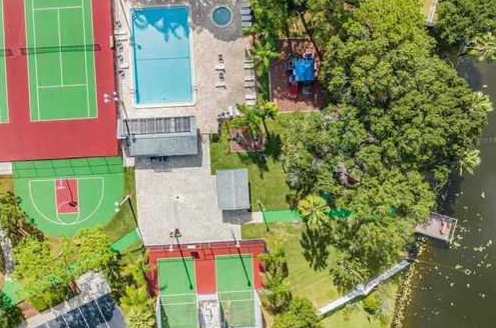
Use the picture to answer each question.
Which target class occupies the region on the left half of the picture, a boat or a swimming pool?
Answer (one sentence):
Looking on the left half of the picture, you will find a swimming pool.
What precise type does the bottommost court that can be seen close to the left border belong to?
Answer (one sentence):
The bottommost court that can be seen close to the left border is a basketball court.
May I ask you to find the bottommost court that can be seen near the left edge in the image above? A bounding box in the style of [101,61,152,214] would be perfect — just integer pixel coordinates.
[12,158,124,239]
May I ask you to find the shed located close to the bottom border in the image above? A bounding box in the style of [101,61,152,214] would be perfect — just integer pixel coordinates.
[201,299,220,328]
